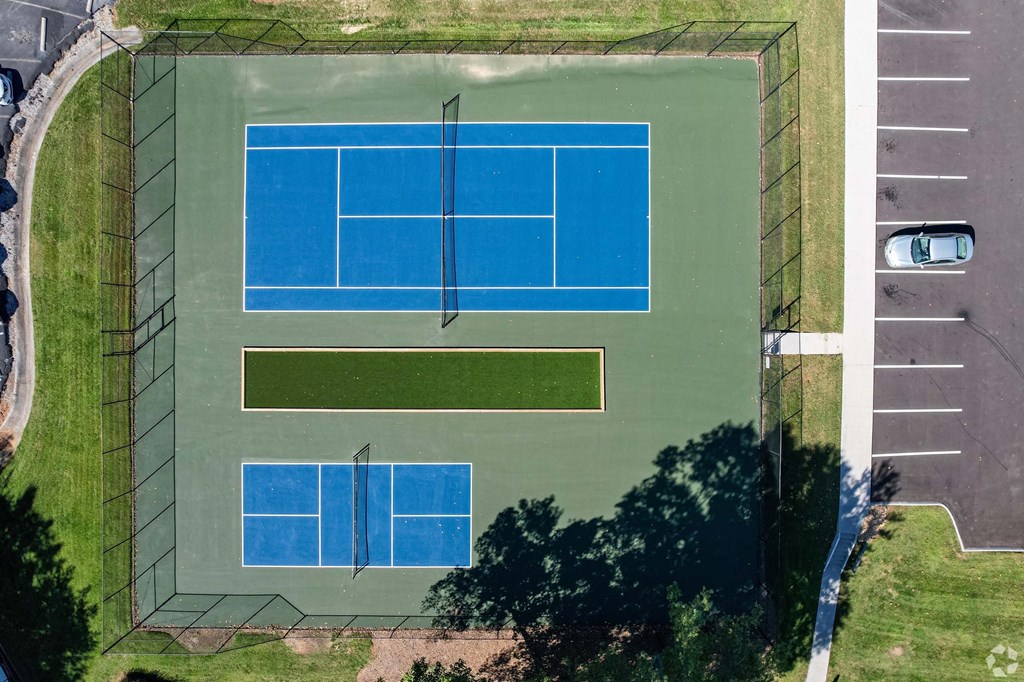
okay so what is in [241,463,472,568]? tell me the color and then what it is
blue sports court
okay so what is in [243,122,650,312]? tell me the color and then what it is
blue tennis court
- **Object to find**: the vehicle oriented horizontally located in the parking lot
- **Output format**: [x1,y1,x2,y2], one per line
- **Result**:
[884,230,974,271]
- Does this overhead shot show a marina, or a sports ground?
sports ground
